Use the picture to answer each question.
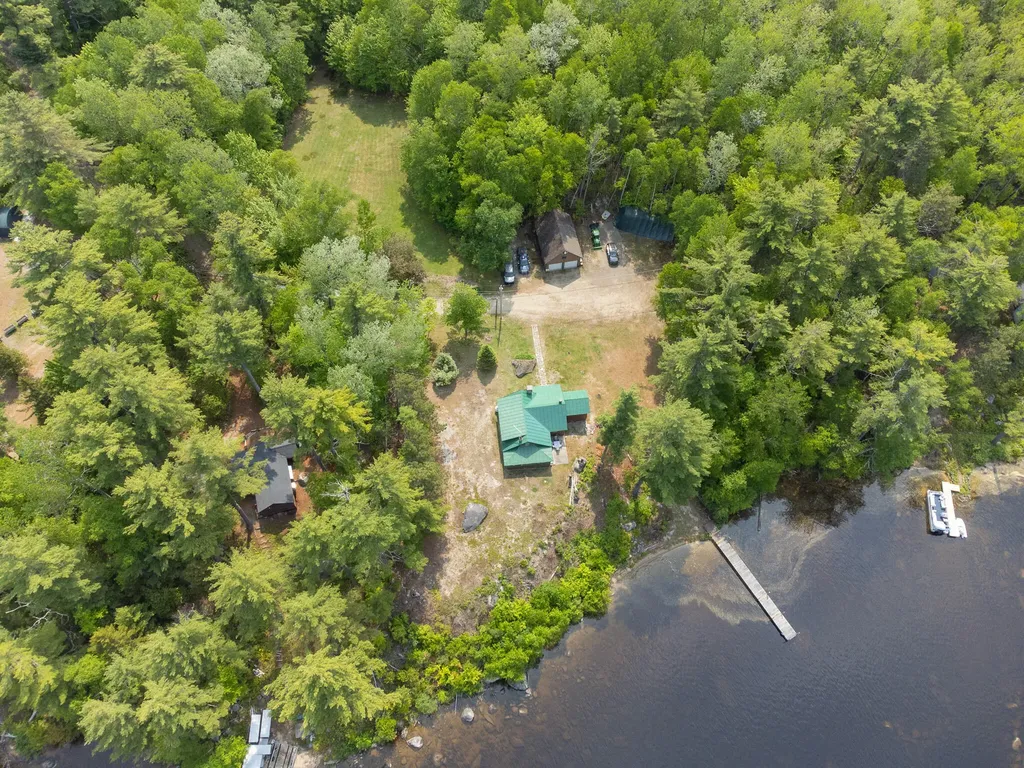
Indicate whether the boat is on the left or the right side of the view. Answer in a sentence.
The boat is on the right side of the image.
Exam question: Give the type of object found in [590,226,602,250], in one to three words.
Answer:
vehicle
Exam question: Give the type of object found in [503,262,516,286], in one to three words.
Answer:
vehicle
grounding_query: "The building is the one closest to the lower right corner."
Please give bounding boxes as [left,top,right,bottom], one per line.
[497,384,591,469]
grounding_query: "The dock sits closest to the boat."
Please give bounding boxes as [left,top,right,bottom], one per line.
[942,482,960,538]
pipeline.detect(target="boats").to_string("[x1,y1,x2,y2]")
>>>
[926,488,949,537]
